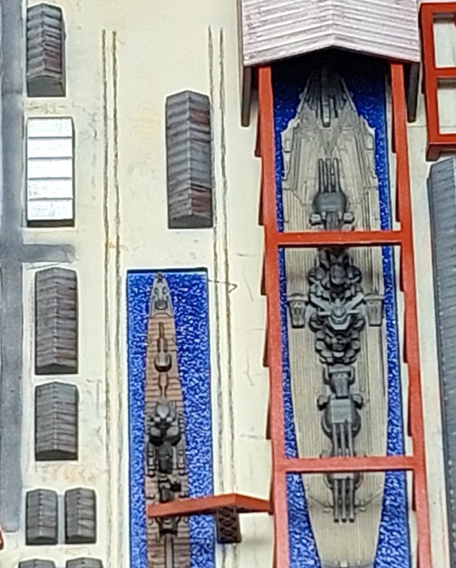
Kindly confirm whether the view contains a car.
No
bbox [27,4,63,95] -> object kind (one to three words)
shed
